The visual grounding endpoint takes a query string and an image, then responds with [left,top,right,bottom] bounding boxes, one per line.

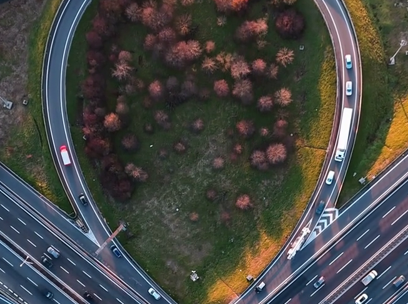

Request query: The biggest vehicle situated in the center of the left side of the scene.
[57,147,70,167]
